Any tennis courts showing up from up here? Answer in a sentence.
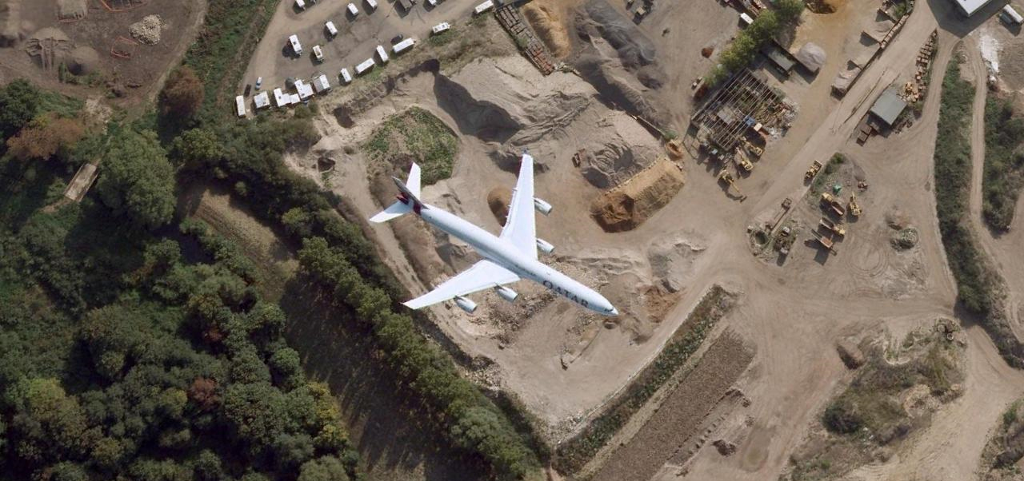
No, the frame has no tennis court in it.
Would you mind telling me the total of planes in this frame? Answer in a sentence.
There is 1 plane in the image.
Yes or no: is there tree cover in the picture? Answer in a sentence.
Yes, the picture does contain tree cover.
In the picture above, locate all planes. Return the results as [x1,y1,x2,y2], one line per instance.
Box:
[372,143,614,314]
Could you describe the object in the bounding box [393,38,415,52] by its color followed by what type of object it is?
white camper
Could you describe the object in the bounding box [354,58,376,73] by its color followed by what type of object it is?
white camper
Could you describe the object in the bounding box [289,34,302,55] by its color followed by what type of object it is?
white vehicle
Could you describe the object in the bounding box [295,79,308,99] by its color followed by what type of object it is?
white vehicle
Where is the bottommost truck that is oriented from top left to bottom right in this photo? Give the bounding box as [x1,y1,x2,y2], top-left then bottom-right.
[820,215,846,237]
